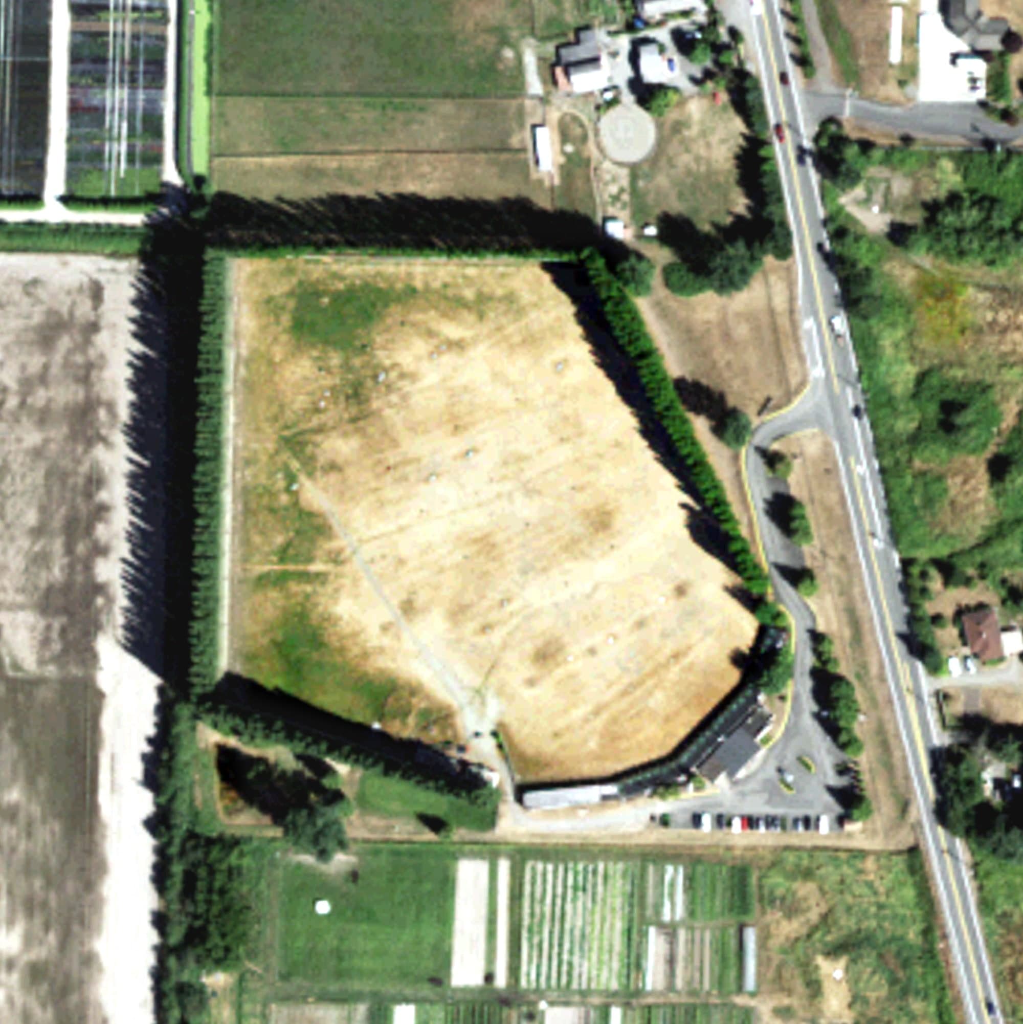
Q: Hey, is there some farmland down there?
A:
Yes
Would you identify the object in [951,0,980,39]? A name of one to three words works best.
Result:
house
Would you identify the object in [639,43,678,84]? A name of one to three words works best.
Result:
building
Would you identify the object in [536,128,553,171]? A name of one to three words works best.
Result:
barn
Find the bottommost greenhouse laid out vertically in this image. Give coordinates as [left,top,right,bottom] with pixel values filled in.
[744,927,757,992]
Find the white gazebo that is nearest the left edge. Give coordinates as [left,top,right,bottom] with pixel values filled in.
[316,900,330,914]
